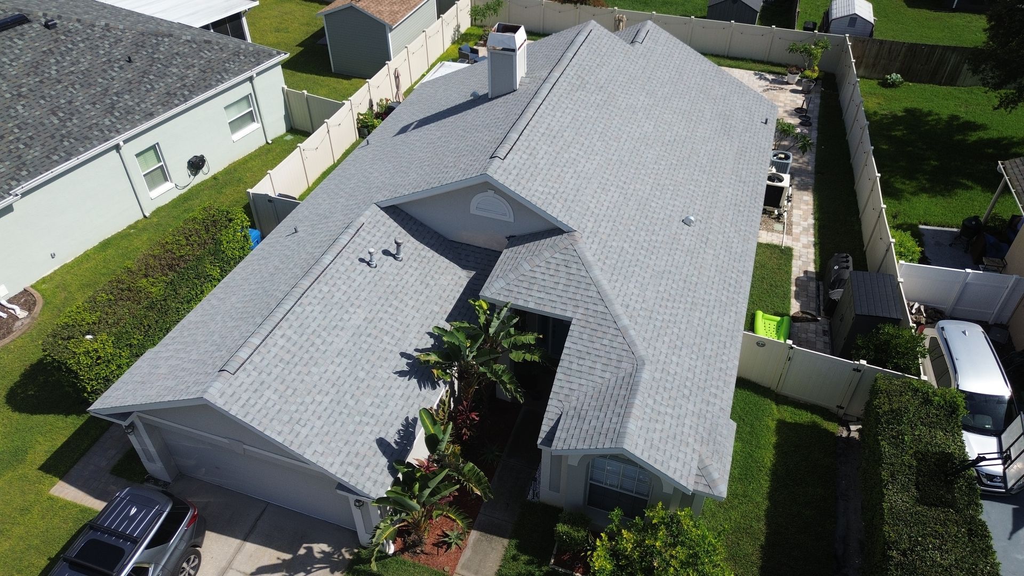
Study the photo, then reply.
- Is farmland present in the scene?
No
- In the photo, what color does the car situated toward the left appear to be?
black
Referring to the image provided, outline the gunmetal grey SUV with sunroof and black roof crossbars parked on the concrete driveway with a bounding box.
[48,490,208,576]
